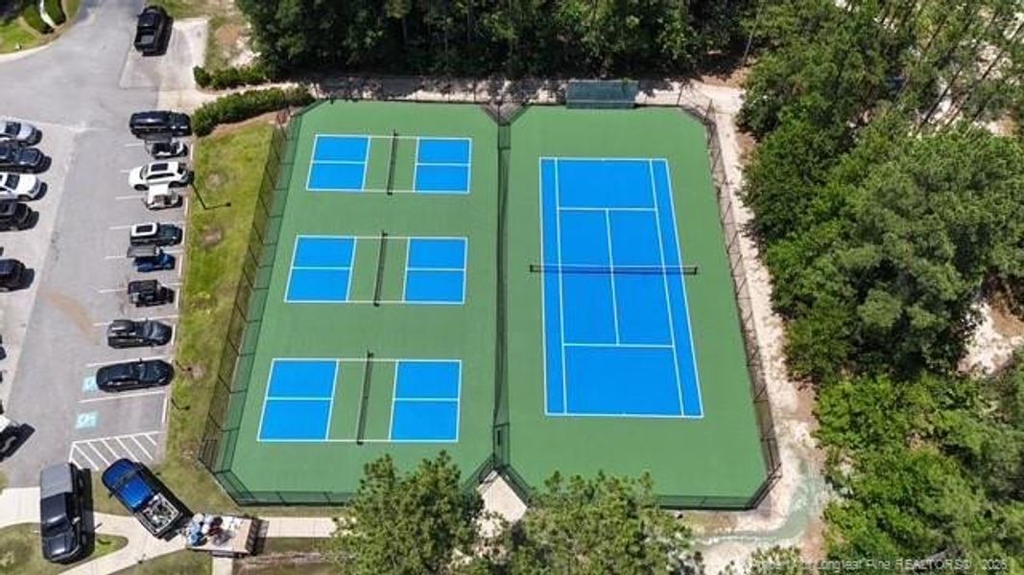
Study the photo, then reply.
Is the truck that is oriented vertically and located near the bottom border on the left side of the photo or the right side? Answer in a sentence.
The truck that is oriented vertically and located near the bottom border is on the left side of the image.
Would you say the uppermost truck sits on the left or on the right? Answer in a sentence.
You can find the uppermost truck on the left side of the picture.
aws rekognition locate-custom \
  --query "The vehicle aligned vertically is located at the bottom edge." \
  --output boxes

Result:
[36,462,85,564]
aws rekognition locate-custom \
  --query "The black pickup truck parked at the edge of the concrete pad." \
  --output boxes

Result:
[133,7,170,53]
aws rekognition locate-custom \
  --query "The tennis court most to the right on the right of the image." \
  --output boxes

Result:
[494,105,766,508]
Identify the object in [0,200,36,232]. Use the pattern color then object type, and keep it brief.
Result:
black car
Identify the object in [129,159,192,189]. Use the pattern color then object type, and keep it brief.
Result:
white car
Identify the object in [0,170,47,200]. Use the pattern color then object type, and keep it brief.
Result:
white car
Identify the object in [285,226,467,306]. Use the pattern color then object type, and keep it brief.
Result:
blue sports court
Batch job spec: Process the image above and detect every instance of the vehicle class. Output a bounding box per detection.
[0,142,51,173]
[120,222,184,252]
[0,170,47,200]
[127,108,193,140]
[133,7,170,53]
[147,137,188,163]
[0,117,45,146]
[129,159,192,189]
[0,257,30,291]
[102,317,174,352]
[0,422,24,451]
[141,182,182,209]
[0,200,36,232]
[93,356,174,393]
[128,247,174,276]
[109,461,192,539]
[36,462,85,564]
[124,281,173,310]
